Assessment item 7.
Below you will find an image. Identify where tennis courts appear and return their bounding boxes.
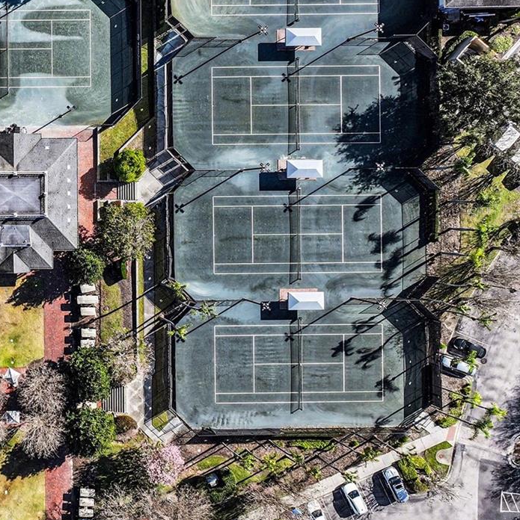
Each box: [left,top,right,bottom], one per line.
[171,0,430,39]
[0,0,139,129]
[172,169,436,299]
[174,299,439,429]
[171,39,432,169]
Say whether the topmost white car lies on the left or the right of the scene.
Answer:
right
